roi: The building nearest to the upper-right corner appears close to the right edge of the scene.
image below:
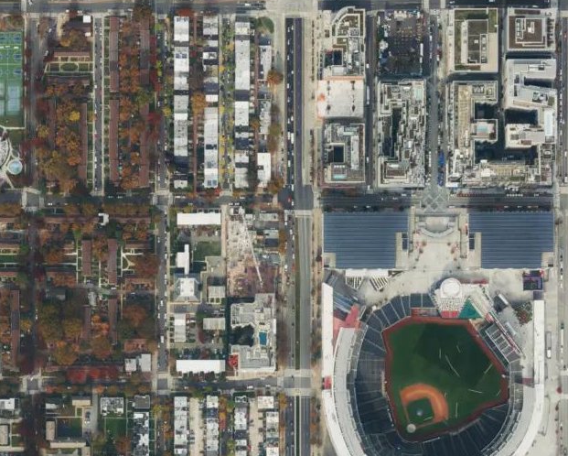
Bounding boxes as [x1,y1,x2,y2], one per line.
[508,9,556,50]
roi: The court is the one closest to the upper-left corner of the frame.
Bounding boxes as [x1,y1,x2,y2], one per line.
[0,32,23,84]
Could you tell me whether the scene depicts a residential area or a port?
residential area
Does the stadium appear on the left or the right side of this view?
right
